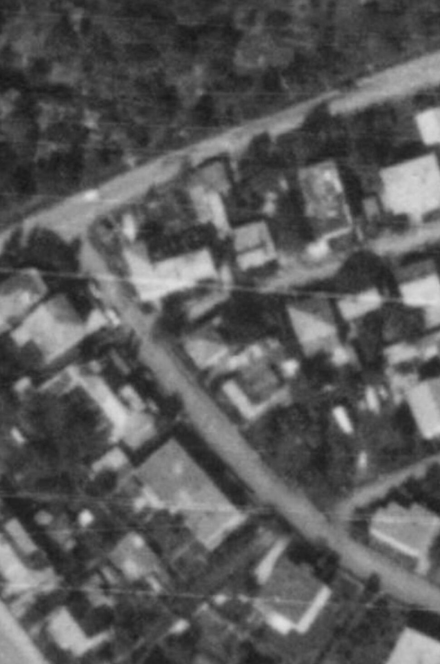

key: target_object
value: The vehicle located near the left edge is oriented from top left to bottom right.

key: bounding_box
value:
[9,427,26,444]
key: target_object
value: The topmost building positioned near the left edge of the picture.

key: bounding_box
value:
[0,269,45,327]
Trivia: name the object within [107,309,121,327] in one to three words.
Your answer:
car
